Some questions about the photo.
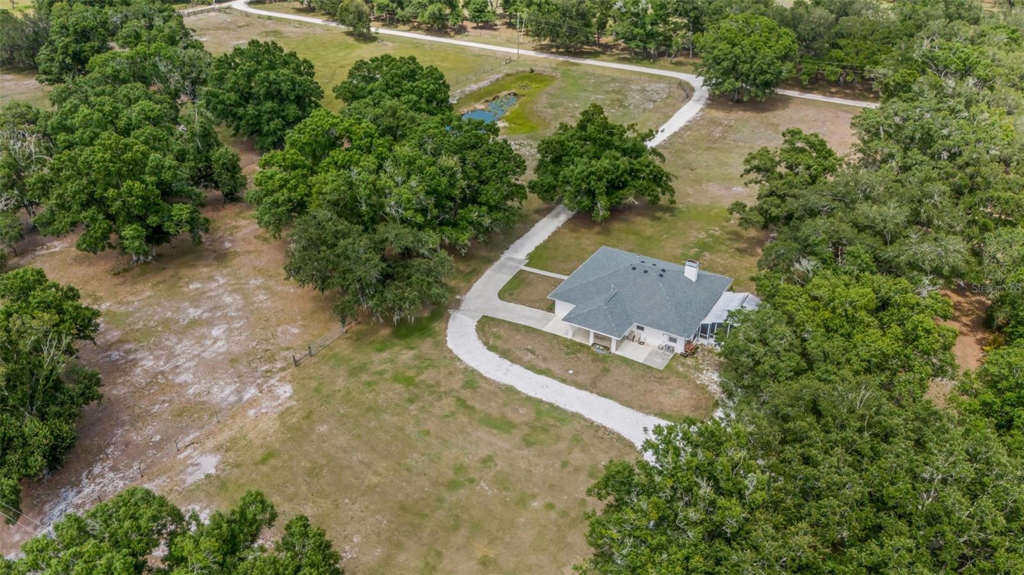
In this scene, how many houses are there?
one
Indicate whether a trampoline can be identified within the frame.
No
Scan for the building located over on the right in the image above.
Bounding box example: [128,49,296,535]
[547,246,759,355]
